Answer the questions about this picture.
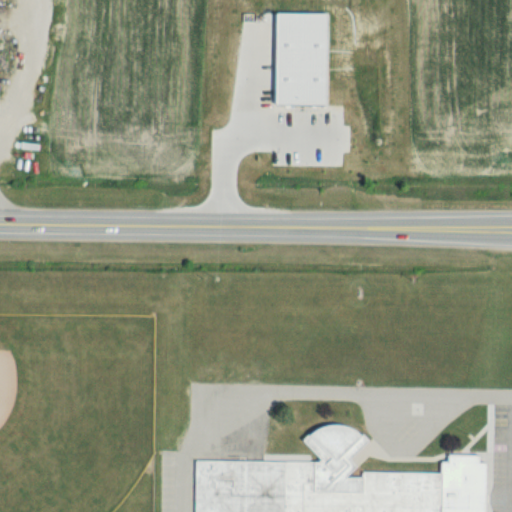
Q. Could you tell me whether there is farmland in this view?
Yes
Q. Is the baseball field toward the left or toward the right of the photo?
left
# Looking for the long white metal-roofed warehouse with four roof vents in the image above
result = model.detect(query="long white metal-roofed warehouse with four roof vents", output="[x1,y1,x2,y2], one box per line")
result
[276,12,330,108]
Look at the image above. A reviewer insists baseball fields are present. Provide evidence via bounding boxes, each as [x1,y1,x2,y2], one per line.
[0,316,156,512]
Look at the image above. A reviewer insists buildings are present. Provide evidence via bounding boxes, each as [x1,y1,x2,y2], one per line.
[196,424,487,512]
[276,12,330,108]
